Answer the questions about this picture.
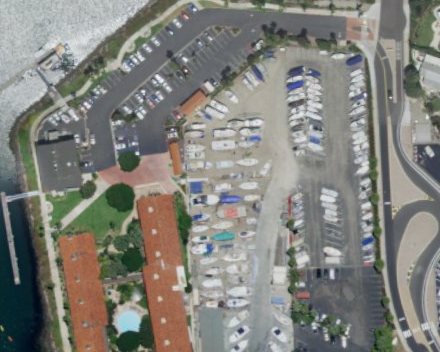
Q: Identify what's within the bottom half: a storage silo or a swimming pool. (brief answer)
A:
swimming pool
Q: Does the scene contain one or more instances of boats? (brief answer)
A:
Yes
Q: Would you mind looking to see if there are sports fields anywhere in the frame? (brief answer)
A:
No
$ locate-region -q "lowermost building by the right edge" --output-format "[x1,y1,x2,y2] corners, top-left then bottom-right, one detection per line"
[414,123,432,142]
